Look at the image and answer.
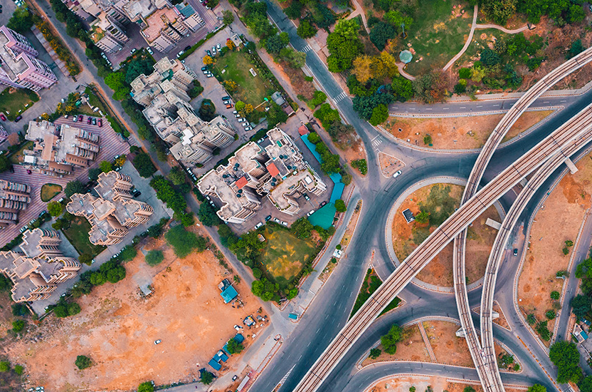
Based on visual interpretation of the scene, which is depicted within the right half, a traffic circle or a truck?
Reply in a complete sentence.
You can see a traffic circle within the right half.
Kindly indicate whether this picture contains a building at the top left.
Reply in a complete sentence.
Yes, a building is visible at the top left.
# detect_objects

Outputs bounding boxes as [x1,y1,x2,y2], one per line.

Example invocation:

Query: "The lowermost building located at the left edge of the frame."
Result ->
[0,225,86,305]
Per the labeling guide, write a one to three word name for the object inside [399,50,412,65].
gazebo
